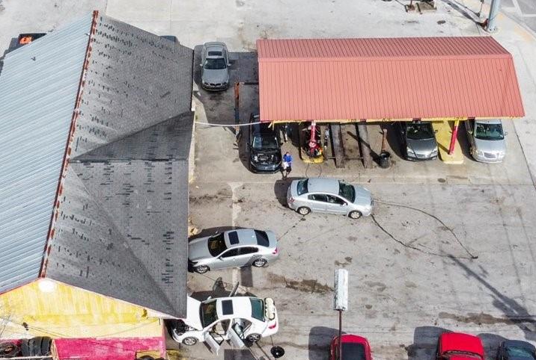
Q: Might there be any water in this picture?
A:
No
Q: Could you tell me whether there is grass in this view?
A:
No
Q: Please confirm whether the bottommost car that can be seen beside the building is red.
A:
No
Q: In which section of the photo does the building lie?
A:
left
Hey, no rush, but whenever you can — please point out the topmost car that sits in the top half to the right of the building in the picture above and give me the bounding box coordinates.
[198,37,235,89]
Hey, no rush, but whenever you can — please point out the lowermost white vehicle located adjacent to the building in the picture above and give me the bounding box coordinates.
[172,277,277,349]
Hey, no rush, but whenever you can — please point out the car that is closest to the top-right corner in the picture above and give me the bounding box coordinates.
[466,122,509,160]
